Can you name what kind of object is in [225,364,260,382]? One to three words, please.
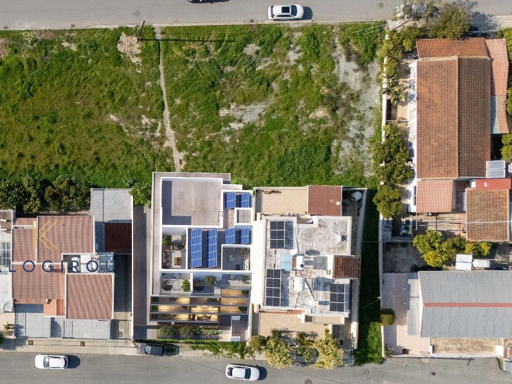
car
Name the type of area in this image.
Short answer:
residential area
